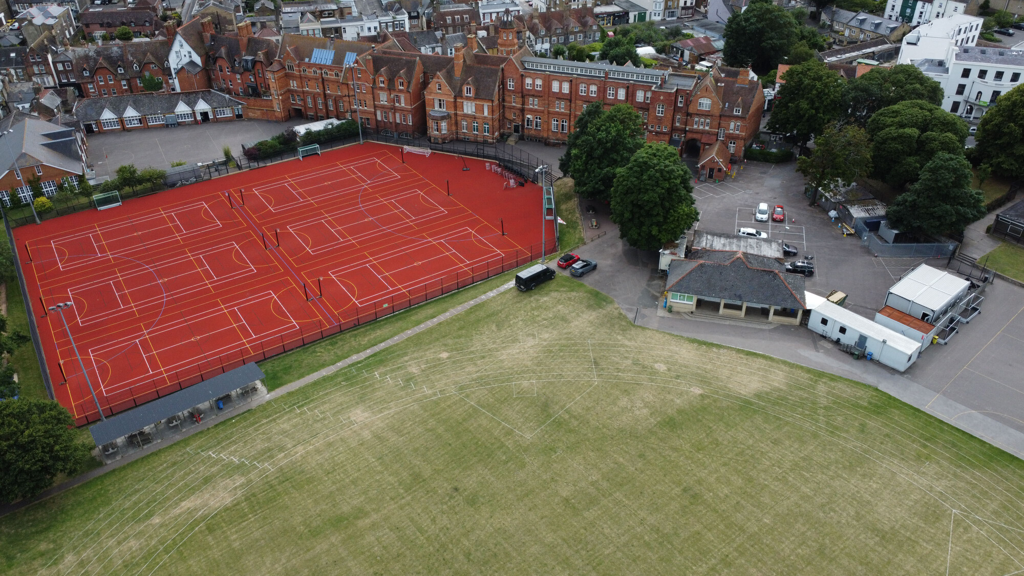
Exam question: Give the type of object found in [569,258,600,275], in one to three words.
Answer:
car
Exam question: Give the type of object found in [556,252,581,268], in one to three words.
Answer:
car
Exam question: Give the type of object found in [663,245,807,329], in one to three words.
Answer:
building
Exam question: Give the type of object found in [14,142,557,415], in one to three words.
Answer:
sports court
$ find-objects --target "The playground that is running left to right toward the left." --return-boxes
[85,118,377,192]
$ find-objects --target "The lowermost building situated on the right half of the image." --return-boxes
[808,302,924,370]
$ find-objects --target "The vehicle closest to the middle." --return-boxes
[512,261,553,288]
